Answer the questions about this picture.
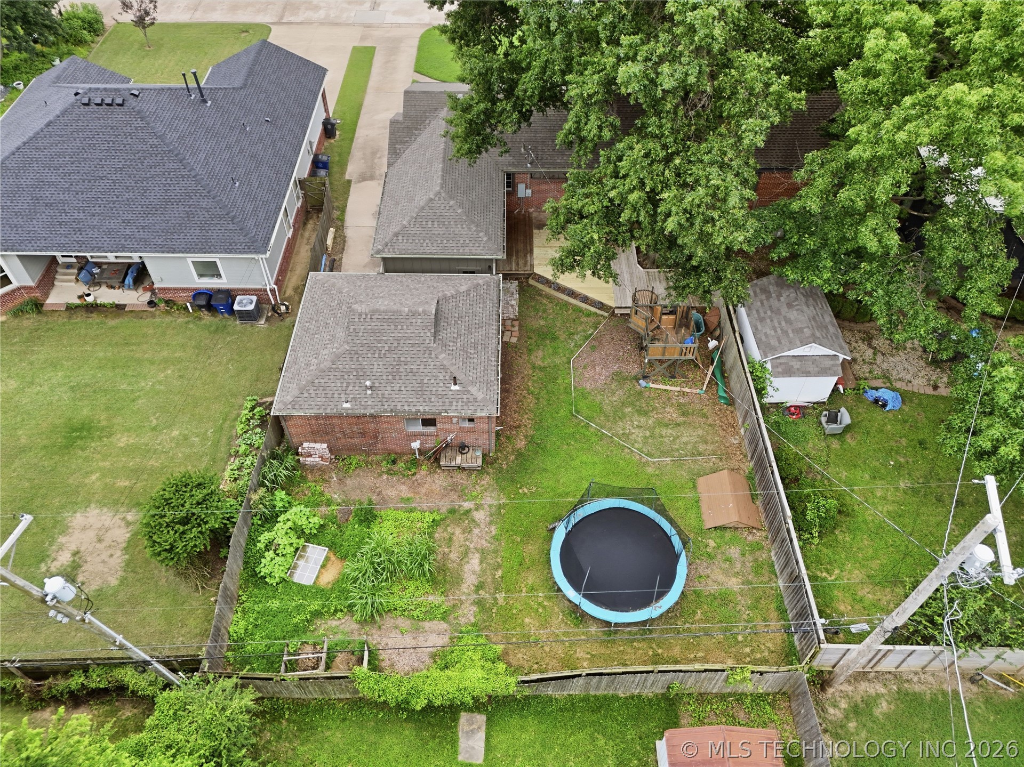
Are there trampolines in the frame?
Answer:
Yes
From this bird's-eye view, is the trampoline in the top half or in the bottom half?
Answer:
bottom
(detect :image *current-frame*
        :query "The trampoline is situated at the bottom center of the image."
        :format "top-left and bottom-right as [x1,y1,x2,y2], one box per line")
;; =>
[547,484,691,644]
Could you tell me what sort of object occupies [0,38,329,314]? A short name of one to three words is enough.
house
